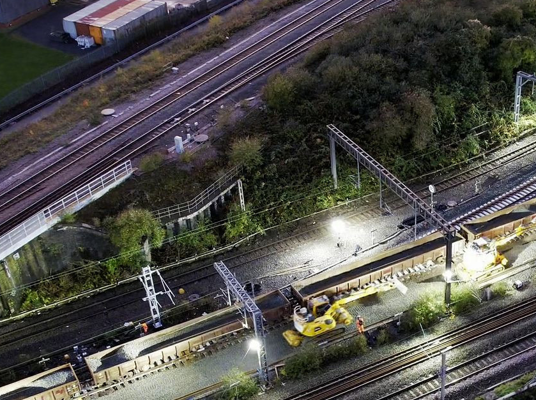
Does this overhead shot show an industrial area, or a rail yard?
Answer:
rail yard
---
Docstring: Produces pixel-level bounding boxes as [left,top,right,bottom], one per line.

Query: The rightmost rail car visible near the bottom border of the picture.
[82,288,291,388]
